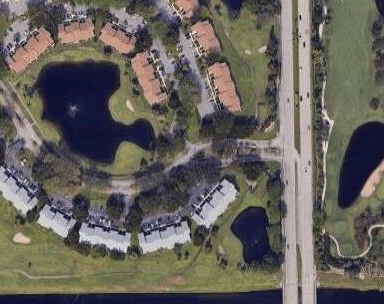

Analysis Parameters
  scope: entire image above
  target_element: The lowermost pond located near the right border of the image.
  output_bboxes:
[338,121,384,208]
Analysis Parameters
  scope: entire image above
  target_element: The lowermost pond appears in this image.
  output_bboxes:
[232,206,271,262]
